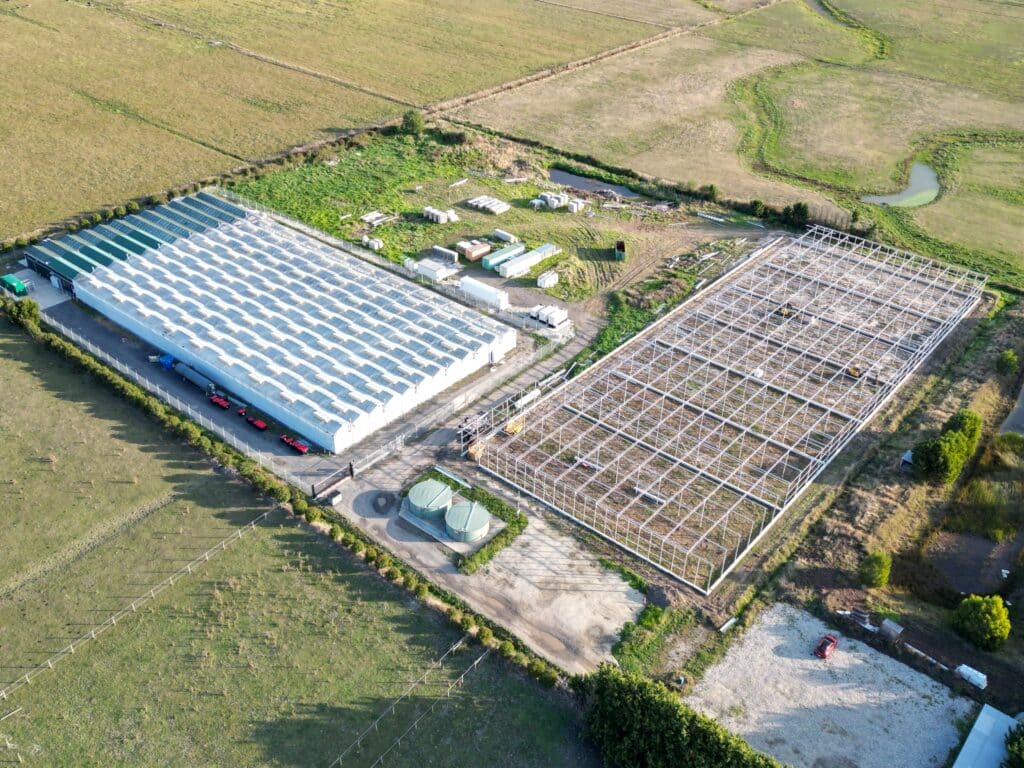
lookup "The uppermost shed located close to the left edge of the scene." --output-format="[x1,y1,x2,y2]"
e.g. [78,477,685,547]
[25,192,252,298]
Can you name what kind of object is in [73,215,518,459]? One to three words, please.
greenhouse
